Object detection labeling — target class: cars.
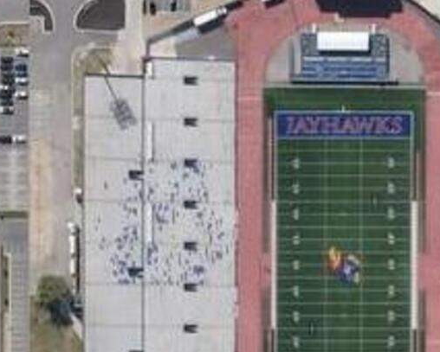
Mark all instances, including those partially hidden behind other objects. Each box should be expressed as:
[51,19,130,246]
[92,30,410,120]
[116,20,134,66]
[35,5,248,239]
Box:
[171,0,176,11]
[15,50,27,55]
[15,92,27,97]
[150,1,156,14]
[142,0,147,12]
[15,78,27,83]
[13,136,26,141]
[1,108,13,113]
[1,57,13,62]
[1,78,13,83]
[15,71,27,76]
[0,137,11,142]
[1,64,13,70]
[1,99,13,104]
[1,85,13,90]
[1,92,13,97]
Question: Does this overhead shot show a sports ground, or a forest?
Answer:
sports ground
